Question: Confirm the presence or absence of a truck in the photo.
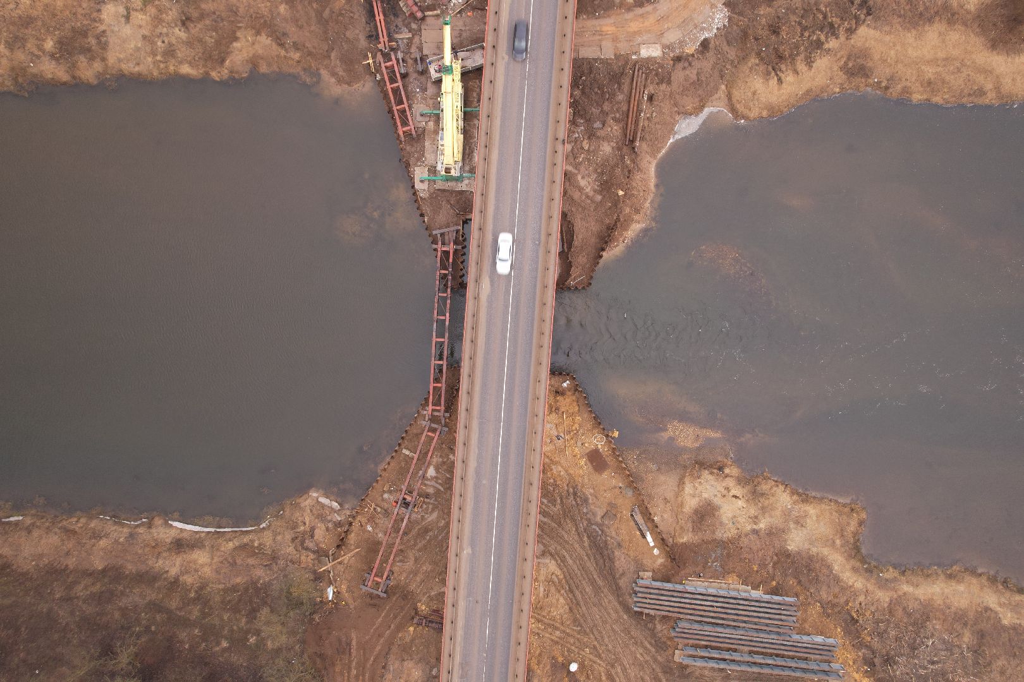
Yes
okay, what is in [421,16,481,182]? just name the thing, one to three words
truck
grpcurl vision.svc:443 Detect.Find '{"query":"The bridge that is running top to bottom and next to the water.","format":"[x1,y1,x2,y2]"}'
[439,0,577,682]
